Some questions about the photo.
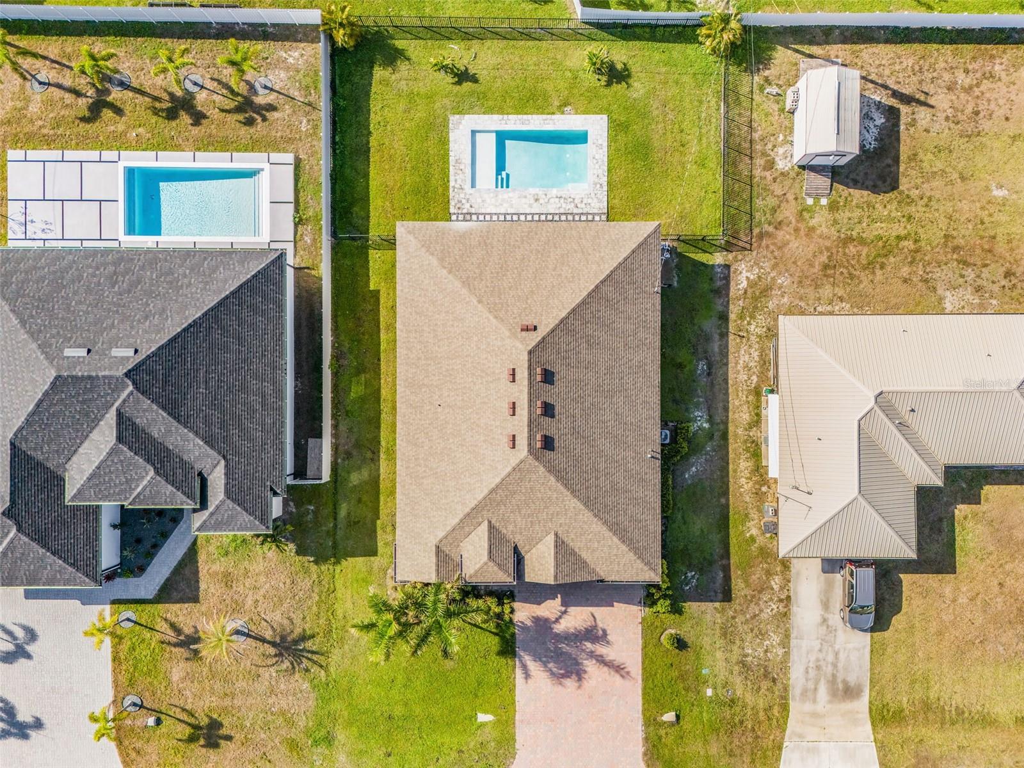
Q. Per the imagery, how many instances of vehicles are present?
1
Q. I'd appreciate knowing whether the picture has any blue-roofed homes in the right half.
No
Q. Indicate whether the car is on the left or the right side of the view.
right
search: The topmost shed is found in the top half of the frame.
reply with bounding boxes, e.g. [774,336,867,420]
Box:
[791,65,859,165]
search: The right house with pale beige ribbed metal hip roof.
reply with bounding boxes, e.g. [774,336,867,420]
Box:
[769,312,1024,560]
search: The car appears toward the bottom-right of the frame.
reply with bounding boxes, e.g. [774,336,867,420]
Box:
[839,558,881,632]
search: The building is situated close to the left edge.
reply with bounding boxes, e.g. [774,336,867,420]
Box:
[0,247,294,590]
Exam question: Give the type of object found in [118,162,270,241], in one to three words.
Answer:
swimming pool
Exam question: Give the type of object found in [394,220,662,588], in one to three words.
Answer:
house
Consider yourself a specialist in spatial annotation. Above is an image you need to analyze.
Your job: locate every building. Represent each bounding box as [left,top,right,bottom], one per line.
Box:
[394,220,662,588]
[769,312,1024,560]
[791,65,859,165]
[0,247,294,590]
